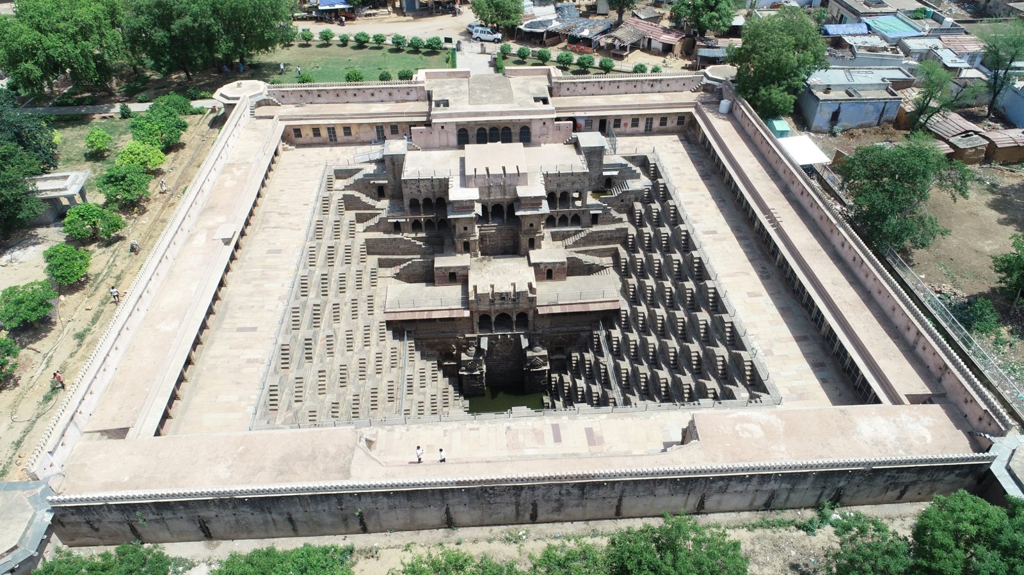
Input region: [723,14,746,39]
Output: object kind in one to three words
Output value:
shed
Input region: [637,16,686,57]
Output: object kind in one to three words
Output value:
shed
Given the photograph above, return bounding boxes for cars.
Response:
[473,24,506,41]
[464,21,487,31]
